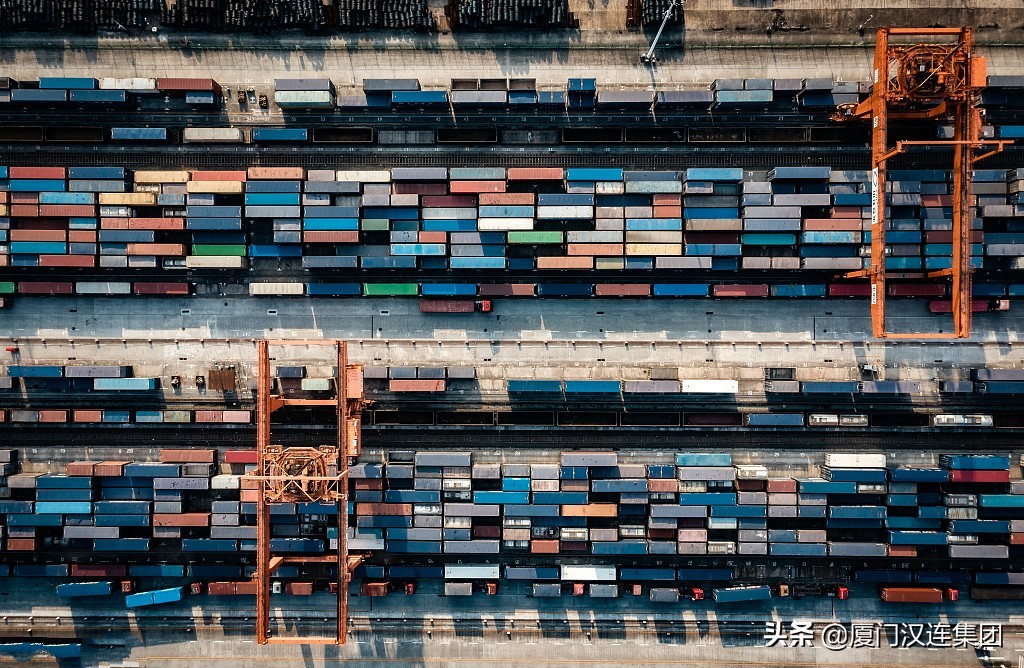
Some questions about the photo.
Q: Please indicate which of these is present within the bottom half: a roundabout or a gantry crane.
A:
gantry crane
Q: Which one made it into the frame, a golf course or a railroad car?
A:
railroad car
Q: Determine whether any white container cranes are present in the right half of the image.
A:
No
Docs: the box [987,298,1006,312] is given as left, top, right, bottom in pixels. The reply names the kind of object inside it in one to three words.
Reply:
vehicle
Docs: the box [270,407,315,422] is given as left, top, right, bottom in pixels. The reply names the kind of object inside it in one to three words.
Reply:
rail car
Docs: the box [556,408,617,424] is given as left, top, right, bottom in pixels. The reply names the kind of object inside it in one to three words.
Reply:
rail car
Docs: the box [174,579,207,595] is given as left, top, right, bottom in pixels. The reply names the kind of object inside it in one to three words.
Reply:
vehicle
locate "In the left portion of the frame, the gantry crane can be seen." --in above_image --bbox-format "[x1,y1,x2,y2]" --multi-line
[239,340,384,644]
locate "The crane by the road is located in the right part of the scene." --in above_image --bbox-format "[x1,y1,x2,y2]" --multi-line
[832,27,1014,339]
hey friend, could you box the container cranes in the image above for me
[239,340,384,644]
[832,27,1014,339]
